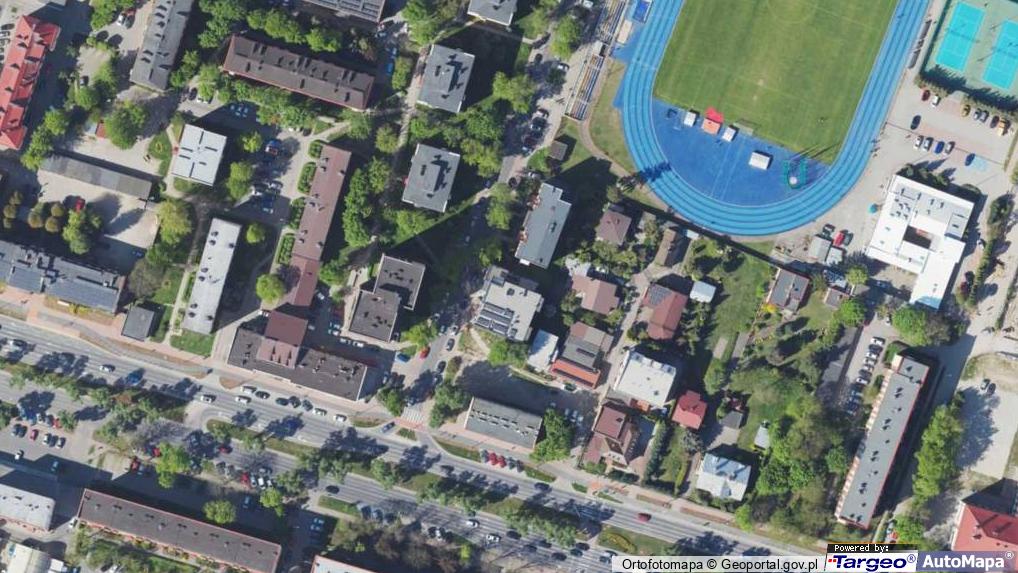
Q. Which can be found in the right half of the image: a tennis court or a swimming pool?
tennis court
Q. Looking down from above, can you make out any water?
No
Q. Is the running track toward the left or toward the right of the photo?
right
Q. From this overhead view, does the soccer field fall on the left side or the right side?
right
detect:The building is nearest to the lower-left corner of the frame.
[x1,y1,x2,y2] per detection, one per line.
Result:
[5,544,49,573]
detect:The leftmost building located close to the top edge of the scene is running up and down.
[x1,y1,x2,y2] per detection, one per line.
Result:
[0,13,52,152]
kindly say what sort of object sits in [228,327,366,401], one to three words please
building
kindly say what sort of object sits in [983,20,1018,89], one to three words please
tennis court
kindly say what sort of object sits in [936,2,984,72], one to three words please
tennis court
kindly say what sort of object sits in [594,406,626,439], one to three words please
house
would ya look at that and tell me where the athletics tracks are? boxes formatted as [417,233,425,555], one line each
[623,0,925,237]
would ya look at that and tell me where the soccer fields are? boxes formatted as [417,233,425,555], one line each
[653,0,894,163]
